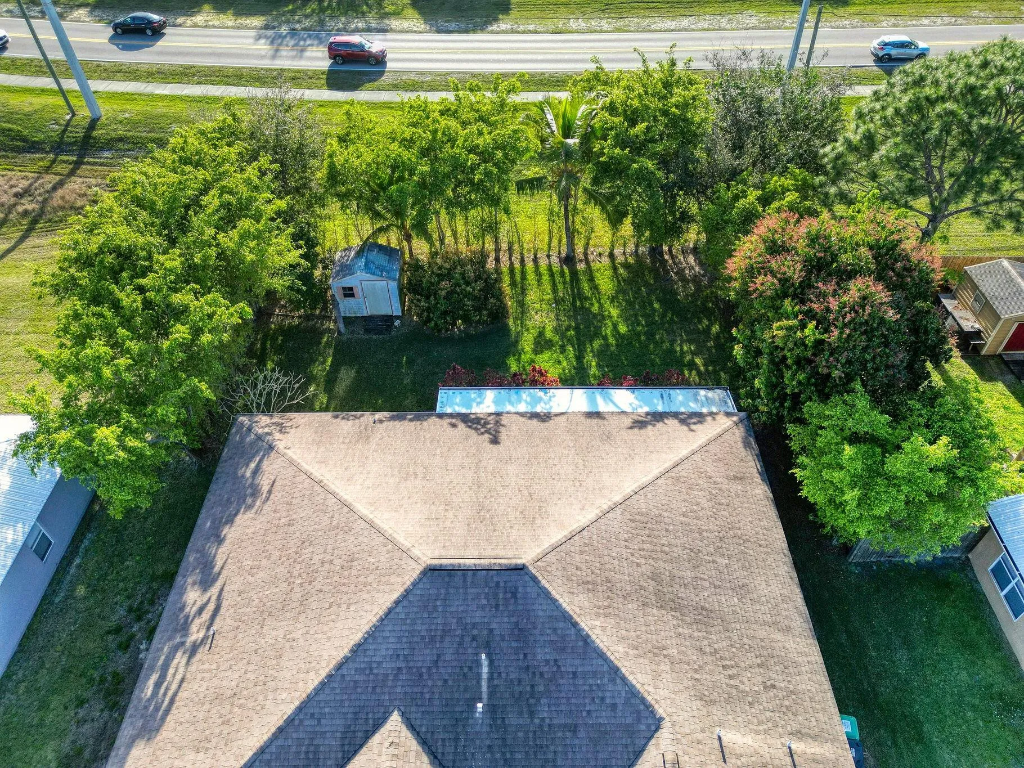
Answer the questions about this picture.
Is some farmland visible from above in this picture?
No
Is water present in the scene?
No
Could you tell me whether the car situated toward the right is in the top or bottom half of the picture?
top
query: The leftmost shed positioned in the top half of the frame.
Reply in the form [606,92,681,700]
[331,239,406,321]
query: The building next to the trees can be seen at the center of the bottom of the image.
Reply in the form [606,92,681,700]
[104,414,853,768]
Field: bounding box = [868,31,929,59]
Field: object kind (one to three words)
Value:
car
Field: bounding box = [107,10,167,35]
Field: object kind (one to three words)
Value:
car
